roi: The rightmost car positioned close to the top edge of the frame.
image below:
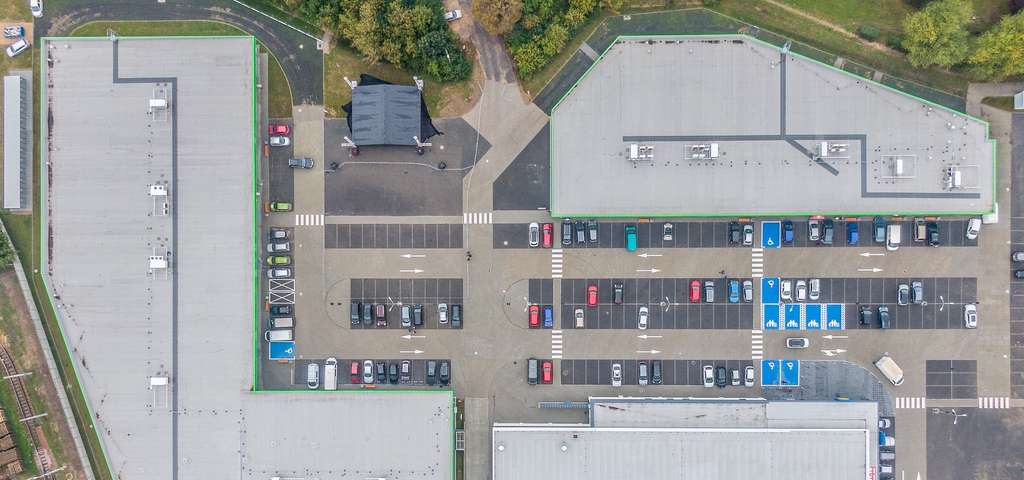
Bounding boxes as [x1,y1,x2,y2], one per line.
[443,8,464,22]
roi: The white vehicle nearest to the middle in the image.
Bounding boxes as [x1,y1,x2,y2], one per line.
[528,222,540,246]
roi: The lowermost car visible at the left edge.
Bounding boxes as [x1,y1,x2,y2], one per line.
[7,38,31,57]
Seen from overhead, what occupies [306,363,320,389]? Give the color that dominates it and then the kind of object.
white car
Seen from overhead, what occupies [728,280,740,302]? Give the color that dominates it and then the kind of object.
blue vehicle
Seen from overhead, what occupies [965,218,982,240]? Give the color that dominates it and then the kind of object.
white vehicle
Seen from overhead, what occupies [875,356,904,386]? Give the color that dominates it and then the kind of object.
white truck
